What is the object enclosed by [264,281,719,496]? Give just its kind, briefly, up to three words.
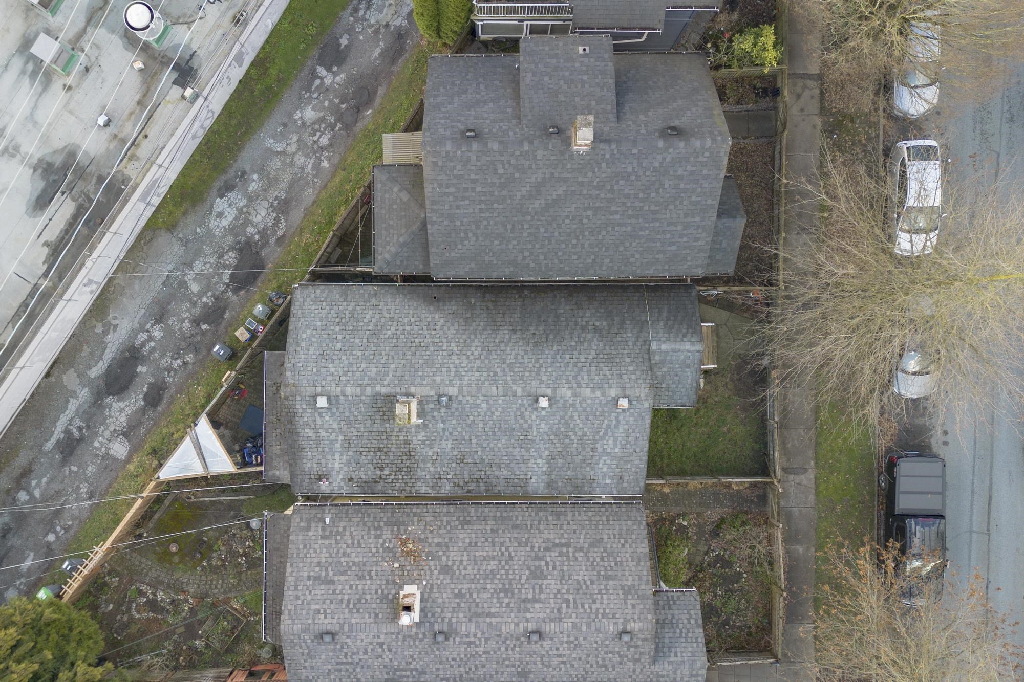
house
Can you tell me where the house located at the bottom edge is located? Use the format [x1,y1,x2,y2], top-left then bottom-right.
[263,496,707,682]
